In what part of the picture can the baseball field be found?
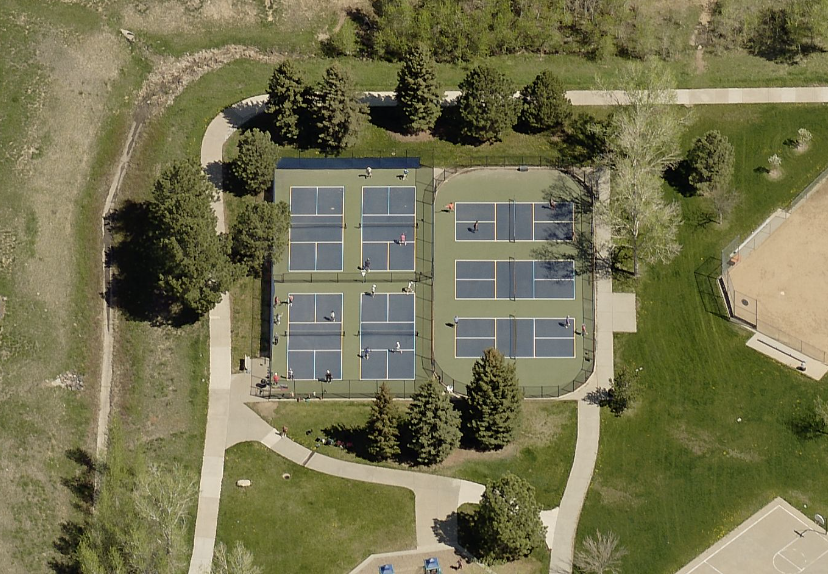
right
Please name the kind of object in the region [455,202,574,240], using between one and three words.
sports court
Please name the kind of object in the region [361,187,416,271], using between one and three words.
sports court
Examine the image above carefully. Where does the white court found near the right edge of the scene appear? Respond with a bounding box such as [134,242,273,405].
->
[673,497,828,574]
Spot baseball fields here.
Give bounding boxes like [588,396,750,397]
[729,181,828,365]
